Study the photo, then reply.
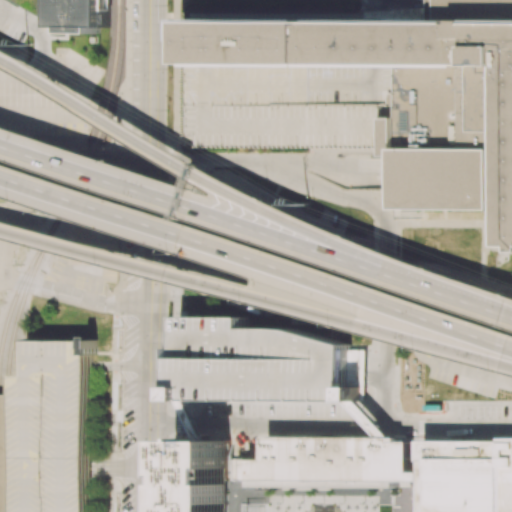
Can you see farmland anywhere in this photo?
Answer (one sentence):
No, the scene doesn't show any farmland.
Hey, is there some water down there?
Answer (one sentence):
No, water can't be seen anywhere here.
